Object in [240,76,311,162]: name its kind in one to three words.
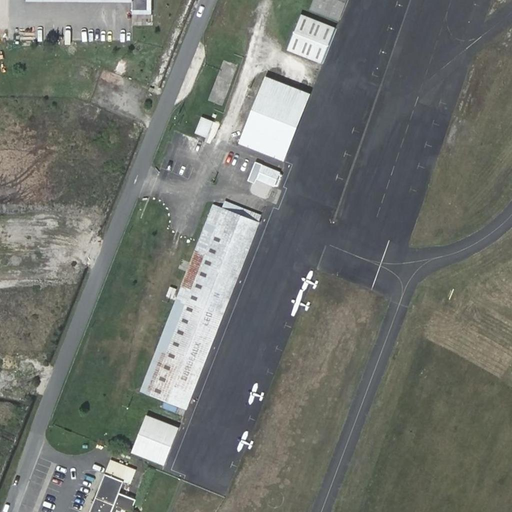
hangar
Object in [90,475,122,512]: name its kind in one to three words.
building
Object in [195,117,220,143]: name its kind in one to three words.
shed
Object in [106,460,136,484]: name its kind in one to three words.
building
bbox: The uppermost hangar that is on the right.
[286,13,338,68]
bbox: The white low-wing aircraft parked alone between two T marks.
[248,384,266,404]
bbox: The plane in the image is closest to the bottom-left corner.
[237,431,256,452]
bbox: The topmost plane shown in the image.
[302,270,320,292]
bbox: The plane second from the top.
[290,290,311,316]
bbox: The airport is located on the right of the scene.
[158,0,512,512]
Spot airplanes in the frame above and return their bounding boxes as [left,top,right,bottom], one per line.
[302,270,320,292]
[237,431,256,452]
[248,384,266,404]
[290,290,311,316]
